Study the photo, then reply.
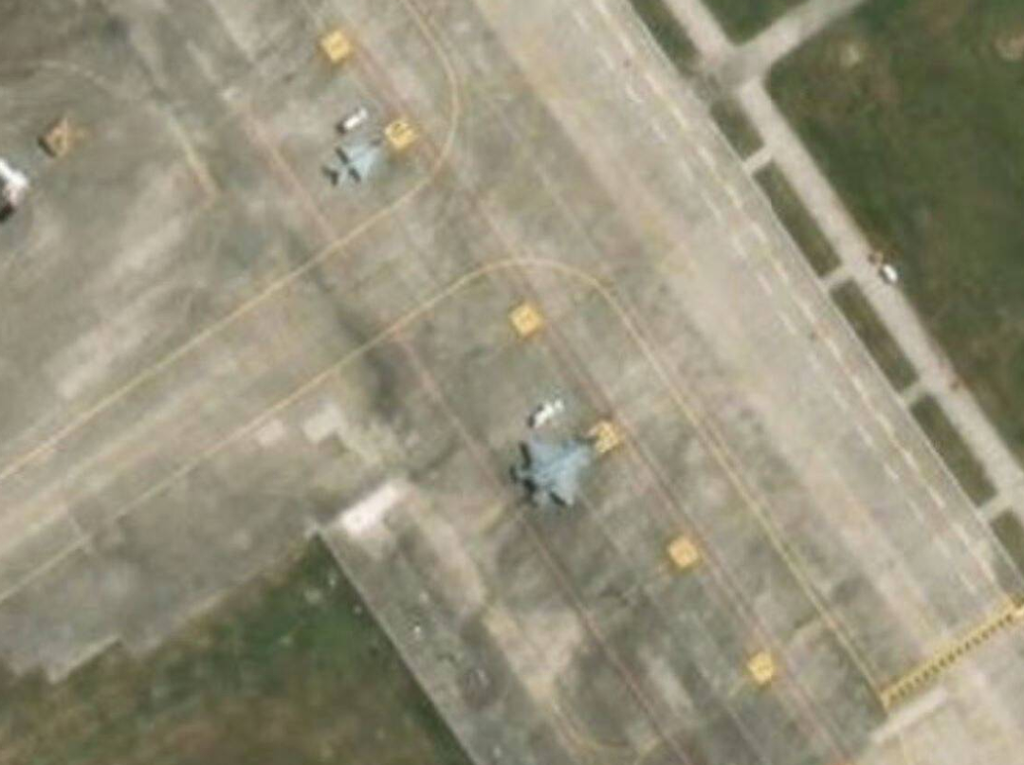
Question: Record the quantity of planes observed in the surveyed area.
2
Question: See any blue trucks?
No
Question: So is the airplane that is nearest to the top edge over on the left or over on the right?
left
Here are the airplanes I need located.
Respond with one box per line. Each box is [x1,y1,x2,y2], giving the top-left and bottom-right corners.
[518,447,597,512]
[327,142,386,191]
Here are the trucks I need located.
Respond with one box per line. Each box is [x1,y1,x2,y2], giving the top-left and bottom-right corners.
[533,401,560,422]
[341,109,368,130]
[0,158,30,207]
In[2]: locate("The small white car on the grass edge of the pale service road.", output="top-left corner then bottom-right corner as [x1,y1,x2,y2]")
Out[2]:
[880,263,898,284]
